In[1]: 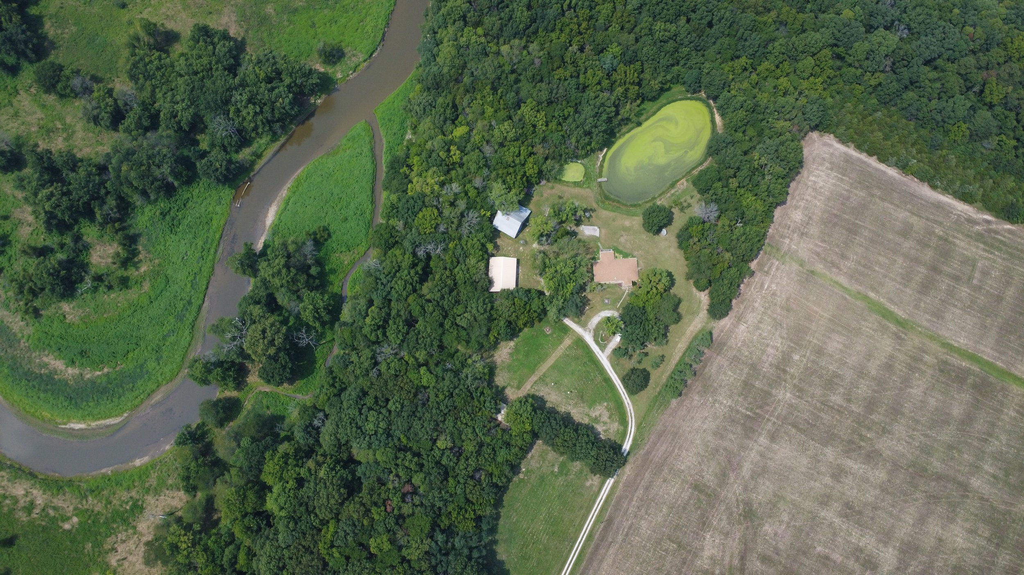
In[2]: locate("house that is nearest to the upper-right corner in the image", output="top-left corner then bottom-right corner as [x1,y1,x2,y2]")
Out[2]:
[593,247,639,290]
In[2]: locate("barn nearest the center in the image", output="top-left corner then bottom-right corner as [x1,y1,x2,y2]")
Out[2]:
[488,257,515,292]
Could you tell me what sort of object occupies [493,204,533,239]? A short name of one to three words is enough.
barn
